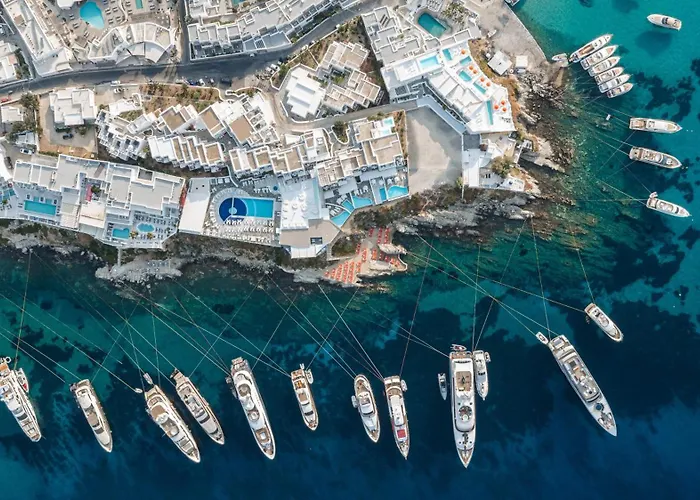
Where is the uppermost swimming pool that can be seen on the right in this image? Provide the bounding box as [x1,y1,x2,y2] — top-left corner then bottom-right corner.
[417,12,447,38]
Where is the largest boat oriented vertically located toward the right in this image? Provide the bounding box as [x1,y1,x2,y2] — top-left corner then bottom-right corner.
[447,350,476,471]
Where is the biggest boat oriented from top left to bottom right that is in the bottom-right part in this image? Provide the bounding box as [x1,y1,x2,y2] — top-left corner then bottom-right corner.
[547,331,619,438]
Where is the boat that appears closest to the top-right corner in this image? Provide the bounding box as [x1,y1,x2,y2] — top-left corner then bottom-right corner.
[646,12,684,30]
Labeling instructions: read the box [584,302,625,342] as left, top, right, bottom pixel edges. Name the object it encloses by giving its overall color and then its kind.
white boat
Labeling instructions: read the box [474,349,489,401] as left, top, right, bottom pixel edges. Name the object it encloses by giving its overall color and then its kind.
white boat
